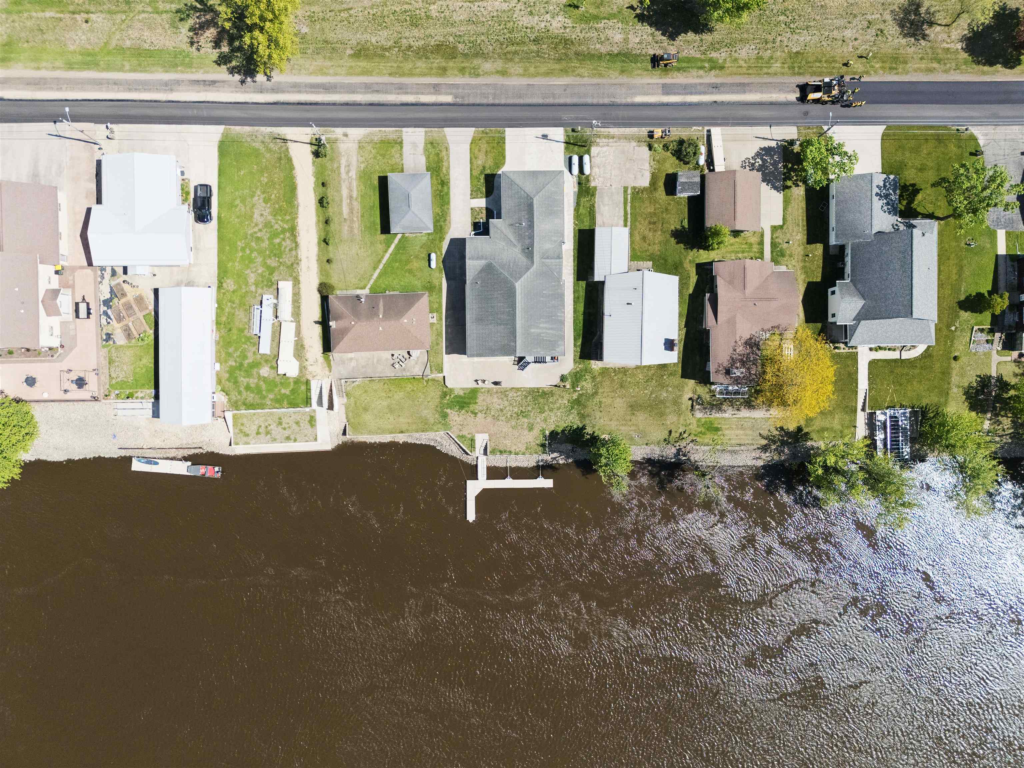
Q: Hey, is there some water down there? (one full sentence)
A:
Yes, there's water in this view.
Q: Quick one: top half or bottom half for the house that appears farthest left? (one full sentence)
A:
You can find the house that appears farthest left in the top half.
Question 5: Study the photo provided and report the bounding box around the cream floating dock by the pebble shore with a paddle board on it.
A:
[132,457,192,474]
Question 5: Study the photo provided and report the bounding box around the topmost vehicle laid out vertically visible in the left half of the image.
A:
[192,183,211,224]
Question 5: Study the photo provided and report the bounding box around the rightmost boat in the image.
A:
[186,467,221,480]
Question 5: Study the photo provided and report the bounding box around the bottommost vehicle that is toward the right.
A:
[652,126,672,138]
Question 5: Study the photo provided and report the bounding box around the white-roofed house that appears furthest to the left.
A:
[0,180,74,351]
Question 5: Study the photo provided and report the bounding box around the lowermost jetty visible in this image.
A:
[467,479,553,522]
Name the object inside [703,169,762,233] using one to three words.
building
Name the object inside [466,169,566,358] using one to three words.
building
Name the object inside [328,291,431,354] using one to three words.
house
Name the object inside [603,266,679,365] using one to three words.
house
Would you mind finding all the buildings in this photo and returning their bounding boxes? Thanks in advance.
[603,266,679,365]
[158,287,220,426]
[328,291,431,354]
[466,169,566,358]
[387,171,434,235]
[87,152,197,275]
[674,170,701,198]
[703,169,762,233]
[0,180,74,351]
[703,258,800,391]
[827,172,938,346]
